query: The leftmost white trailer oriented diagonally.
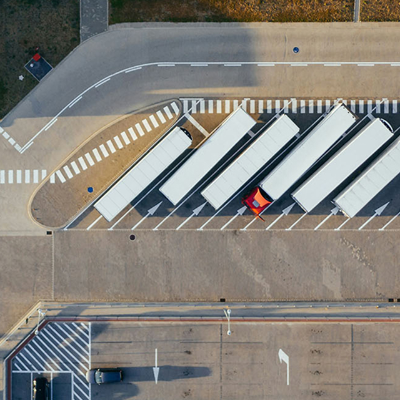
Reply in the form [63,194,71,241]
[92,126,192,223]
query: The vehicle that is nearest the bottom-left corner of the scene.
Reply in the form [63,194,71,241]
[31,378,49,400]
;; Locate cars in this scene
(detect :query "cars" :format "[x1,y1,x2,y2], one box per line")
[86,366,123,386]
[31,378,49,400]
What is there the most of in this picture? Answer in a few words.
paved ground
